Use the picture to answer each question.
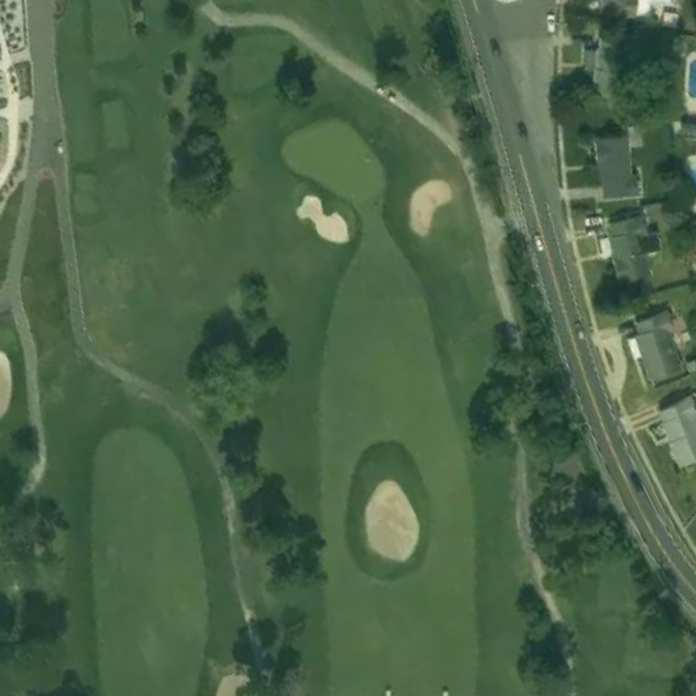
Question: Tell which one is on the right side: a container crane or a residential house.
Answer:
residential house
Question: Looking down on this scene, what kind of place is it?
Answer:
golf course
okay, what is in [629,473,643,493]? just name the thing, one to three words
vehicle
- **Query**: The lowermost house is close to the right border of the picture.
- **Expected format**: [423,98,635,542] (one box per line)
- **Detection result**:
[660,395,696,468]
